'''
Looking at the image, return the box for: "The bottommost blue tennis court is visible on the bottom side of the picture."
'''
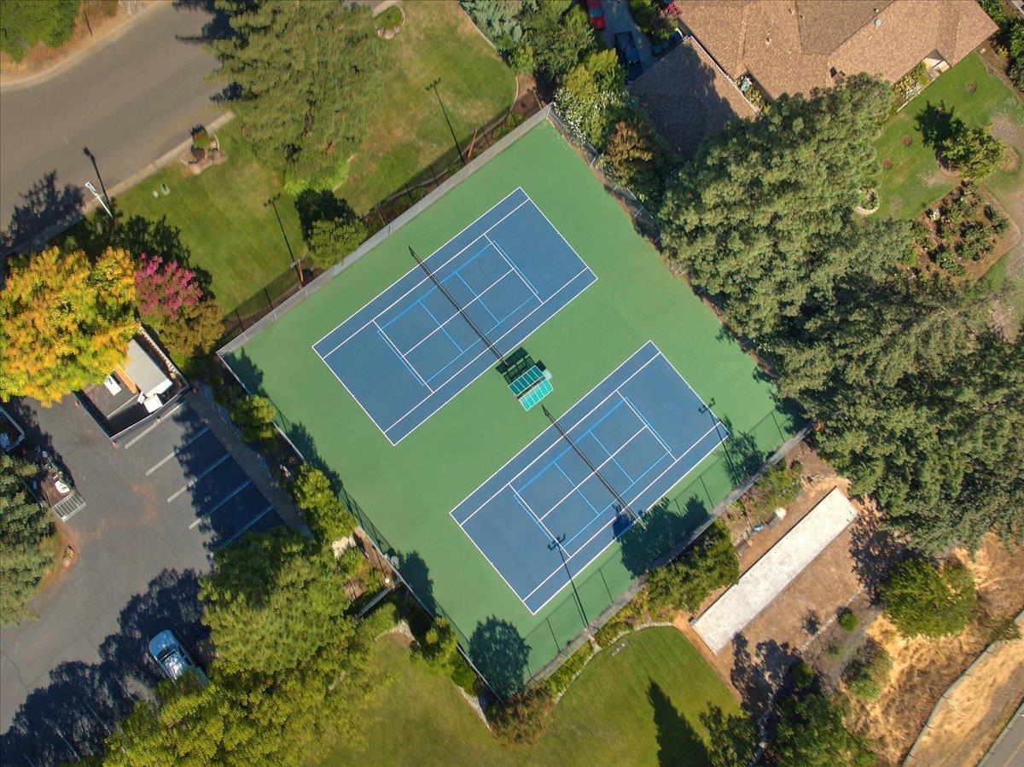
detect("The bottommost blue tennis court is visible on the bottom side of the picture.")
[450,341,729,613]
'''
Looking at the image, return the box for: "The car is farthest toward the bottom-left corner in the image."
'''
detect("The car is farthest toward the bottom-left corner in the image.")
[149,624,201,694]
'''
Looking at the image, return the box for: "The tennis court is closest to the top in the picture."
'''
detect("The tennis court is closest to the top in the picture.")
[312,188,597,445]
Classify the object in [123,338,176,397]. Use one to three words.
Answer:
shed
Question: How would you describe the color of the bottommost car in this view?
blue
